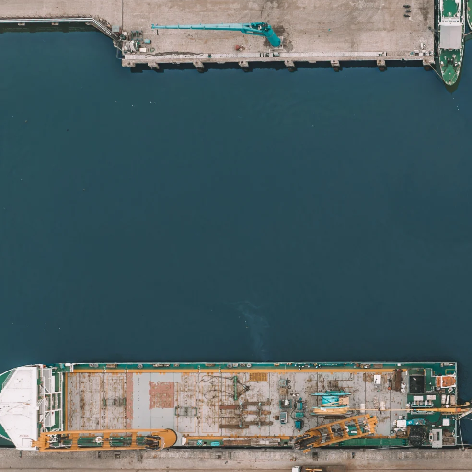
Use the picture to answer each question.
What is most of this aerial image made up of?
water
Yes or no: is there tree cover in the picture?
No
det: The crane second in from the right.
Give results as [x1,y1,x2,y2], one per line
[151,19,283,52]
